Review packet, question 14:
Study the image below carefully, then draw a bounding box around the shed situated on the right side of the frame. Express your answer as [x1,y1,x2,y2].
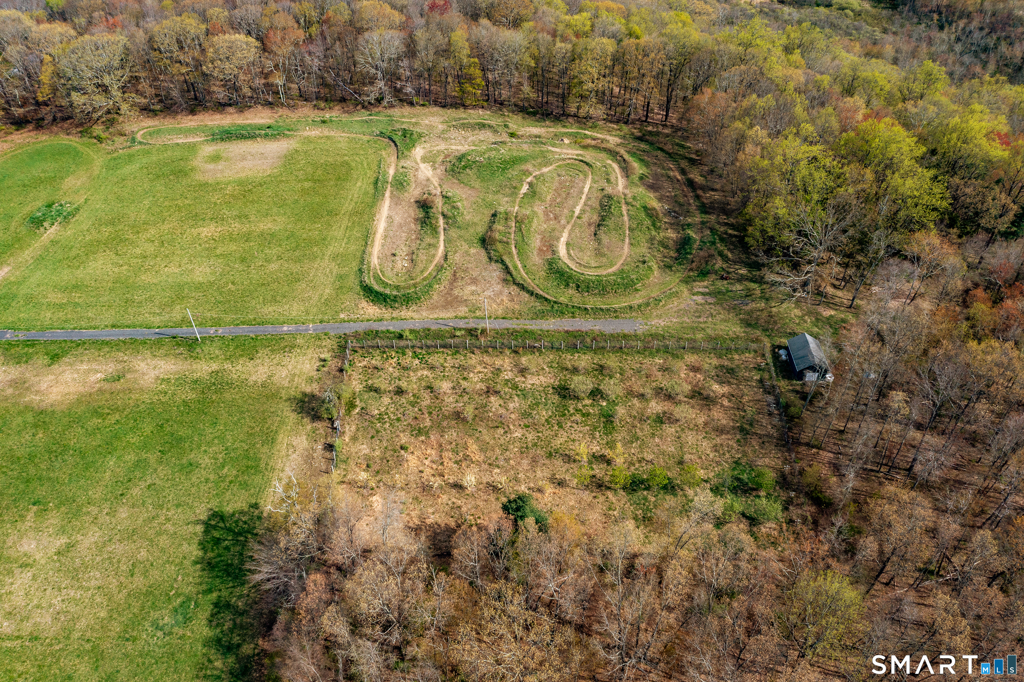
[787,332,830,378]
